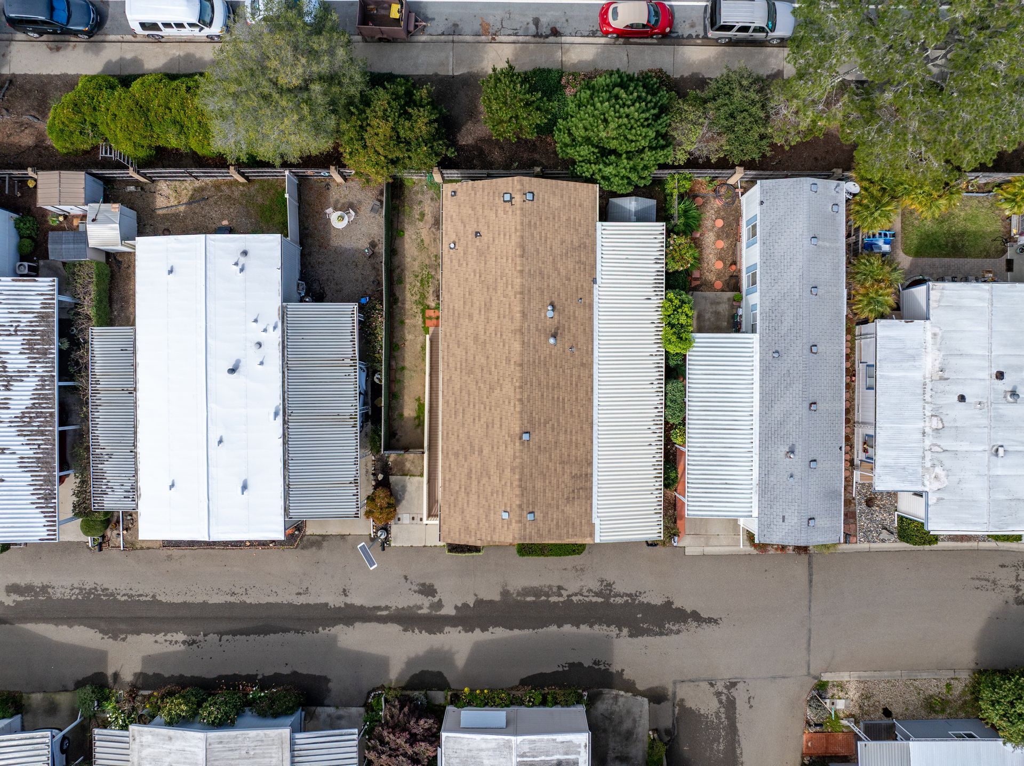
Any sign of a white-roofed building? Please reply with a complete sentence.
Yes, this view includes a white-roofed building.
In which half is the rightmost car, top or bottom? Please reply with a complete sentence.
It is in the top half that the rightmost car appears.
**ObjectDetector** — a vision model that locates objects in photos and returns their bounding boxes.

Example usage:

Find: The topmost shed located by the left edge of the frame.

[37,170,104,214]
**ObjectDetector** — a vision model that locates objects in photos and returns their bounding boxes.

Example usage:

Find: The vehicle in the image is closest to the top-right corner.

[700,0,795,43]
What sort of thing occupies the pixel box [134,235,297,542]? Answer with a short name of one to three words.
house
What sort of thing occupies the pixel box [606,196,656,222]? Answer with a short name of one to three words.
shed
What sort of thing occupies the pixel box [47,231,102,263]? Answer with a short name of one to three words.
shed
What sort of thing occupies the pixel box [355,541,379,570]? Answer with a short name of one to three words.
solar panel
